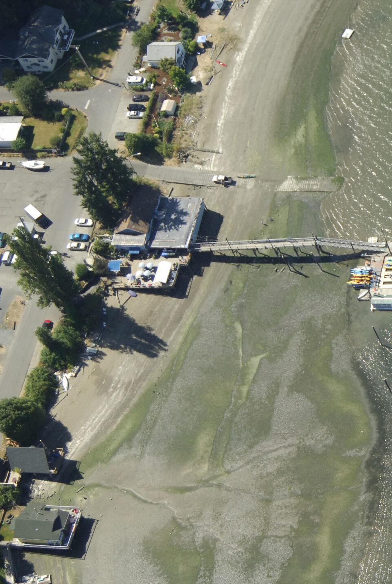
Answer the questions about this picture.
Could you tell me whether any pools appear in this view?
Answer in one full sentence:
No, the photo shows no pool.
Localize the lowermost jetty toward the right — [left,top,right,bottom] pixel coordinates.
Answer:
[358,252,392,312]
